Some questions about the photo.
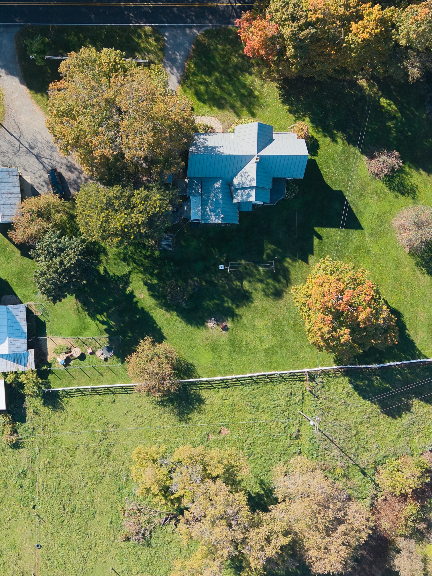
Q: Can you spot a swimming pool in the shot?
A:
No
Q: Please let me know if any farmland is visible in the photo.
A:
Yes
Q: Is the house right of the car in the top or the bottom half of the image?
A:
top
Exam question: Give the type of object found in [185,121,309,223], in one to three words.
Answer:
house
